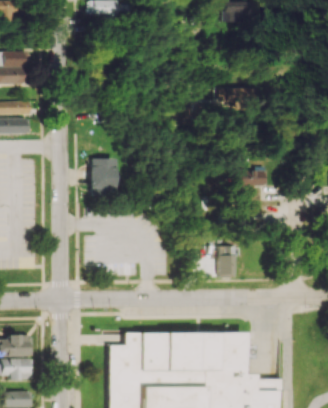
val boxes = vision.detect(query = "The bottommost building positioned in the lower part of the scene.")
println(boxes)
[5,392,32,408]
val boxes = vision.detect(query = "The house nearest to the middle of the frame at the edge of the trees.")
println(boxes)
[92,158,119,192]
